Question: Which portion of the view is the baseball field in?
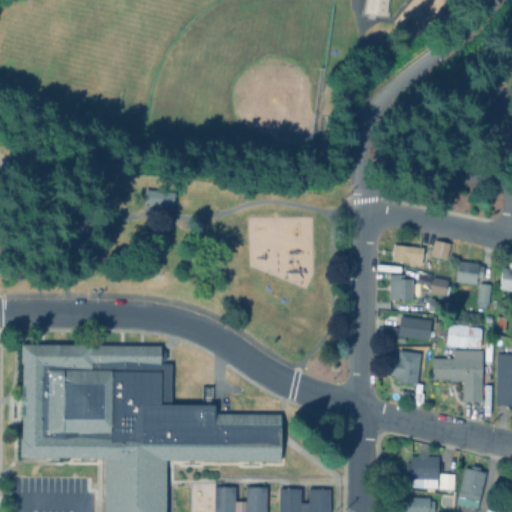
top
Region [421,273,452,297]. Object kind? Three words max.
house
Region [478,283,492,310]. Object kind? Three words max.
building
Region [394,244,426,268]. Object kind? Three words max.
house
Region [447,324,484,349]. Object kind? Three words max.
building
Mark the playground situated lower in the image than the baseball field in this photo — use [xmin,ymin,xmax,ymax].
[249,217,314,288]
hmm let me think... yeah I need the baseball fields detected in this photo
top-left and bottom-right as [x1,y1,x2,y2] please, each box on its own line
[148,0,334,160]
